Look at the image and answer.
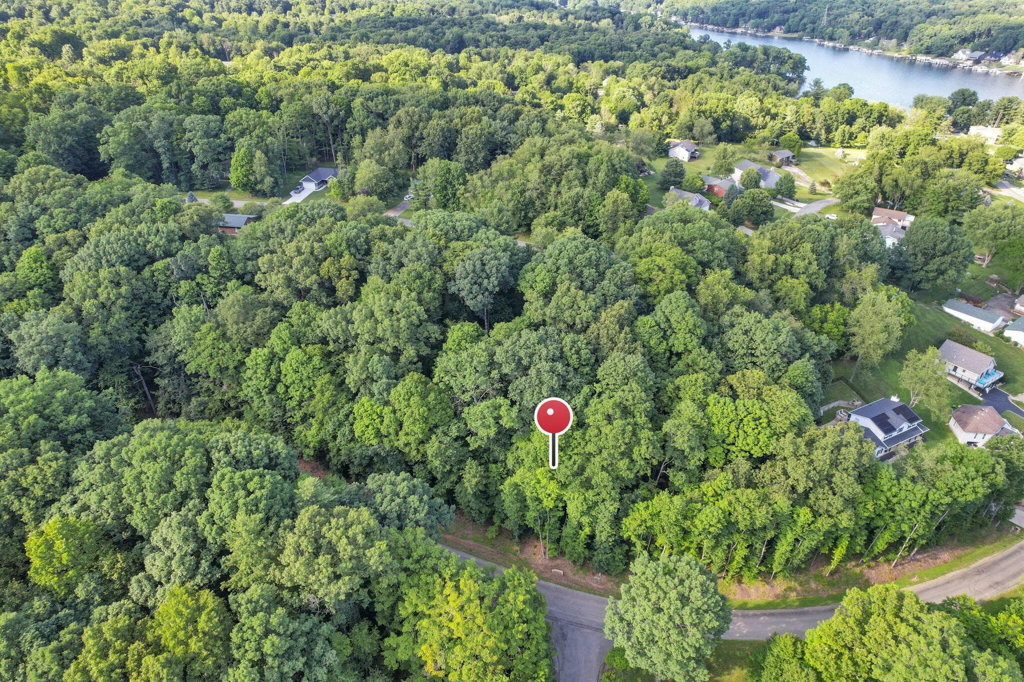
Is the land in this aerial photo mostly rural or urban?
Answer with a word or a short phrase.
rural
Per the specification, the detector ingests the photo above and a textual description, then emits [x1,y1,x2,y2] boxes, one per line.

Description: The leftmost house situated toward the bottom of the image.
[847,394,935,468]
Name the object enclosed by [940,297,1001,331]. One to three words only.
building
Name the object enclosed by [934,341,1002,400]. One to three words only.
house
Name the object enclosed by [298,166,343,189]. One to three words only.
house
